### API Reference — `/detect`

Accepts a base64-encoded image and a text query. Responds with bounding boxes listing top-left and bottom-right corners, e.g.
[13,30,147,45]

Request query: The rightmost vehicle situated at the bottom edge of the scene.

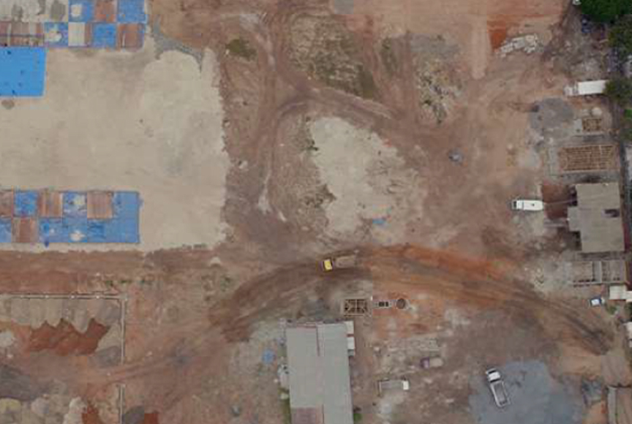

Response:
[486,368,514,411]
